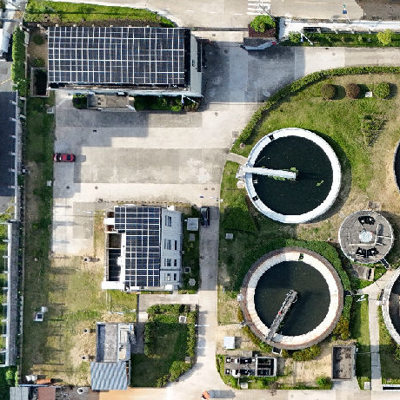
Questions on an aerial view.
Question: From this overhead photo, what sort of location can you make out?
industrial area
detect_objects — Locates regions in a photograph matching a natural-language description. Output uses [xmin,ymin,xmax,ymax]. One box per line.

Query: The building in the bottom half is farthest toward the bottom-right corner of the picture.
[226,350,278,386]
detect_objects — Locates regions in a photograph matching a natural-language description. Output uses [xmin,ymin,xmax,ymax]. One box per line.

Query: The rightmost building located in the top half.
[241,23,283,53]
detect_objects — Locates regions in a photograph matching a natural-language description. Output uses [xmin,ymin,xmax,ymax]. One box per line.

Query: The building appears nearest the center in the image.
[101,202,183,293]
